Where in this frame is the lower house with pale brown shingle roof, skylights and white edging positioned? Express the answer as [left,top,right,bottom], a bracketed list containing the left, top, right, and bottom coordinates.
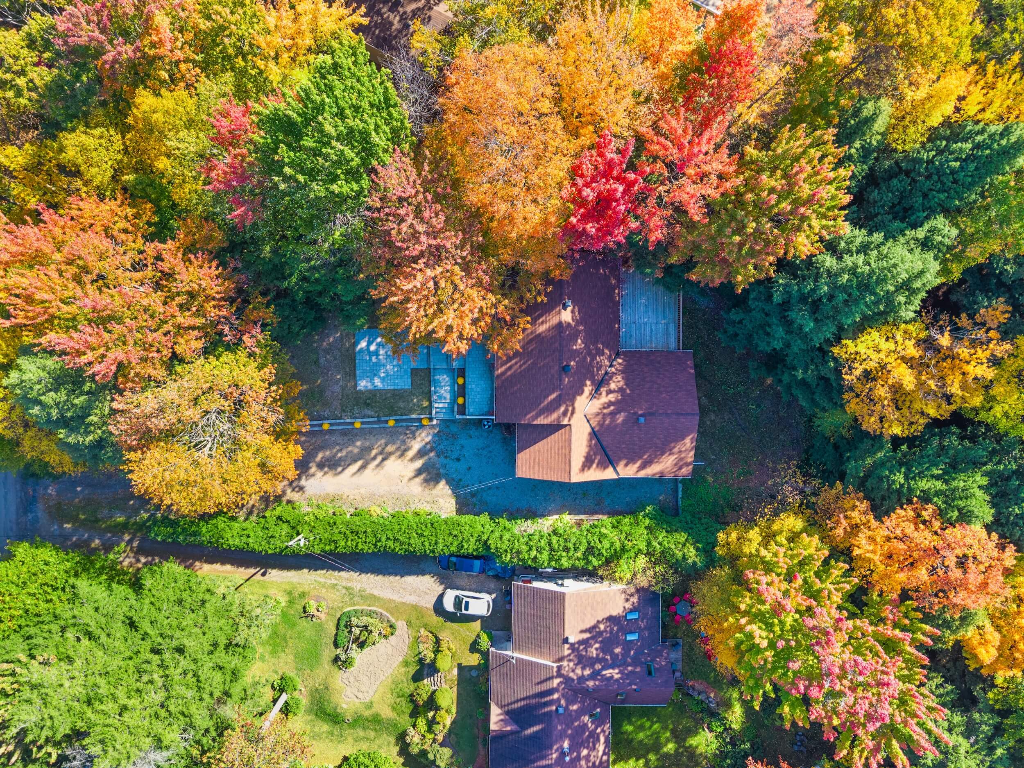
[488,578,675,768]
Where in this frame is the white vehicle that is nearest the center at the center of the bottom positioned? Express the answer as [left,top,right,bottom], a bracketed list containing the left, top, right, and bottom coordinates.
[443,588,493,615]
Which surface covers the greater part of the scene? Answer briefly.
trees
